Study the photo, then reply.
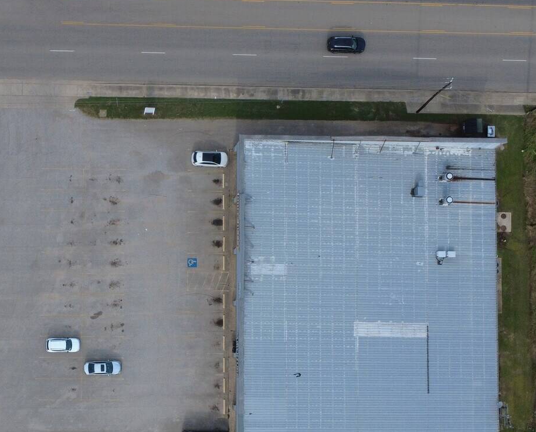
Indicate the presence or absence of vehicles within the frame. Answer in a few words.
Yes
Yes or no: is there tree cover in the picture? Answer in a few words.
No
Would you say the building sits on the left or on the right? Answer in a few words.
right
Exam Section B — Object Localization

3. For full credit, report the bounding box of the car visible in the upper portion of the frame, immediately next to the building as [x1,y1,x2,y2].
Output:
[191,150,226,168]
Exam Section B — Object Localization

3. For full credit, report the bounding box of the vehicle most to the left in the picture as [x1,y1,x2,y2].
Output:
[46,337,80,353]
